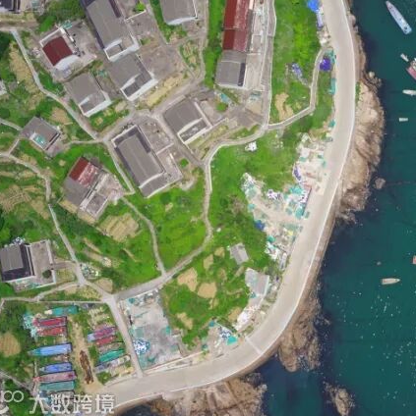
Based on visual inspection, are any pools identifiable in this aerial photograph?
No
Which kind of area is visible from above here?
residential area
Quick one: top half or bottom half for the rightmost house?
bottom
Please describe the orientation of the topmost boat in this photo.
on a diagonal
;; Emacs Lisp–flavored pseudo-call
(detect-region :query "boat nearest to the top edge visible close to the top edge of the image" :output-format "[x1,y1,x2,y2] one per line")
[387,1,411,34]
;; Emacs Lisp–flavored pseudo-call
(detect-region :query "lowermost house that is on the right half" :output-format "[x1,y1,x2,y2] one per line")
[244,270,271,293]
